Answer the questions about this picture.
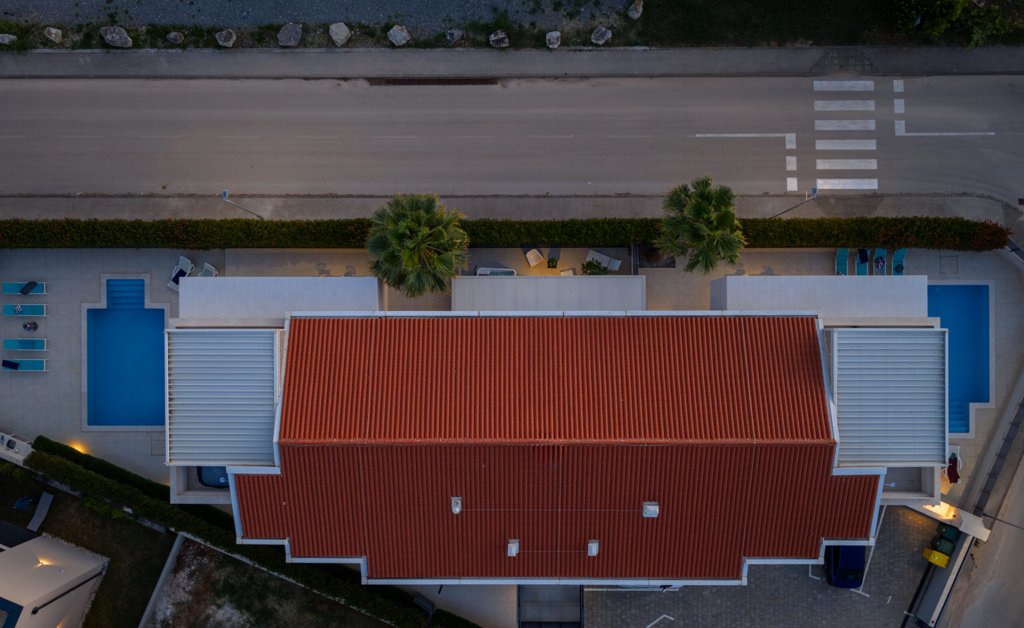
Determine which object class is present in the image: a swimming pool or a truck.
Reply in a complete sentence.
The one in the frame is a swimming pool.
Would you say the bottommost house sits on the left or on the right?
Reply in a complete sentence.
You can find the bottommost house on the left side of the picture.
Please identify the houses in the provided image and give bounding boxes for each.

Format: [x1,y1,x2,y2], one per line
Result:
[0,523,102,628]
[225,311,889,586]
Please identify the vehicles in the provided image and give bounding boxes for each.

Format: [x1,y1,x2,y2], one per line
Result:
[821,538,864,589]
[603,585,683,595]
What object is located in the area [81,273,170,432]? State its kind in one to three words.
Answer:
swimming pool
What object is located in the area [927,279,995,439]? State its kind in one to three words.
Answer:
swimming pool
